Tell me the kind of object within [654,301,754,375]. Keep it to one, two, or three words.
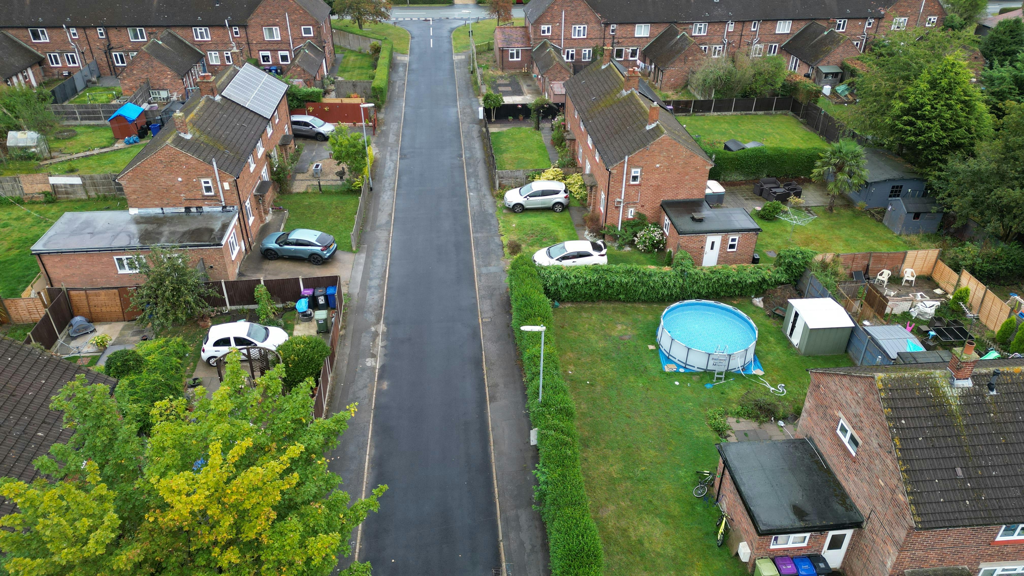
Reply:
swimming pool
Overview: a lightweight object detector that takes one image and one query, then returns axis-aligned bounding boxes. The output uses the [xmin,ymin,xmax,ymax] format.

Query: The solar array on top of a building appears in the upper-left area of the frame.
[215,61,287,119]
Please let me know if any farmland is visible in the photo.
No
